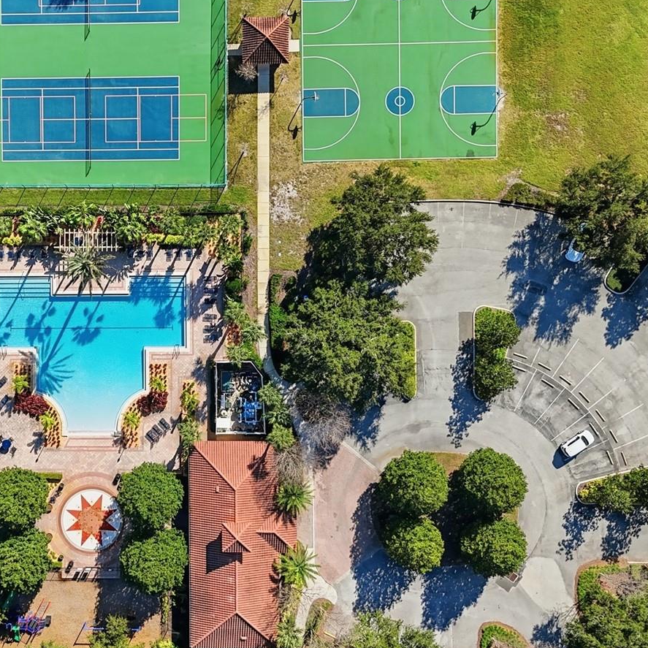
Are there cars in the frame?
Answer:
Yes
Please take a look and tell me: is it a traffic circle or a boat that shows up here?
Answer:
traffic circle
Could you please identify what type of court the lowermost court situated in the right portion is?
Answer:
basketball court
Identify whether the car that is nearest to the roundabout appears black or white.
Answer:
white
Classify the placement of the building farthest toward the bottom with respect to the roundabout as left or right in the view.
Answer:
left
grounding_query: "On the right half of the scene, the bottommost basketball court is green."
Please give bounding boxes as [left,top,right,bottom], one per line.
[302,40,497,162]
